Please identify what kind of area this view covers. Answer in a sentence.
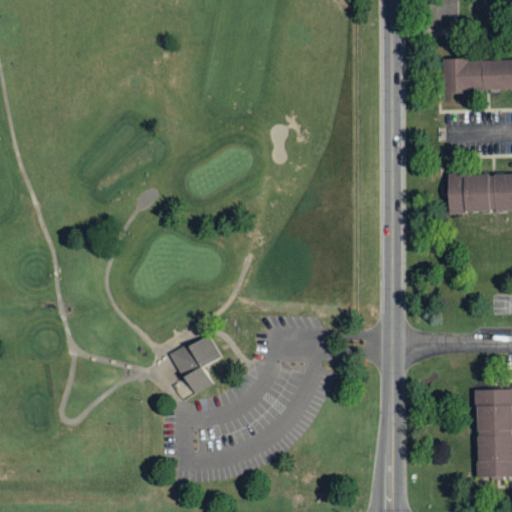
The area seen from above is a golf course.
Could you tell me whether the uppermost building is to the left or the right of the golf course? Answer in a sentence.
Compared with the golf course, the uppermost building is located further to the right.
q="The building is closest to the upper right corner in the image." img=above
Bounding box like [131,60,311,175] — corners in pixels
[443,60,512,95]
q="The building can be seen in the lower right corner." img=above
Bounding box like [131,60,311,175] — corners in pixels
[474,390,512,478]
